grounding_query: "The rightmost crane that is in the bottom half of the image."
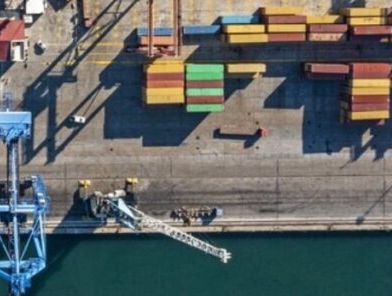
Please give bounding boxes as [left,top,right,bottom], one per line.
[81,179,229,263]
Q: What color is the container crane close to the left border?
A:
blue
